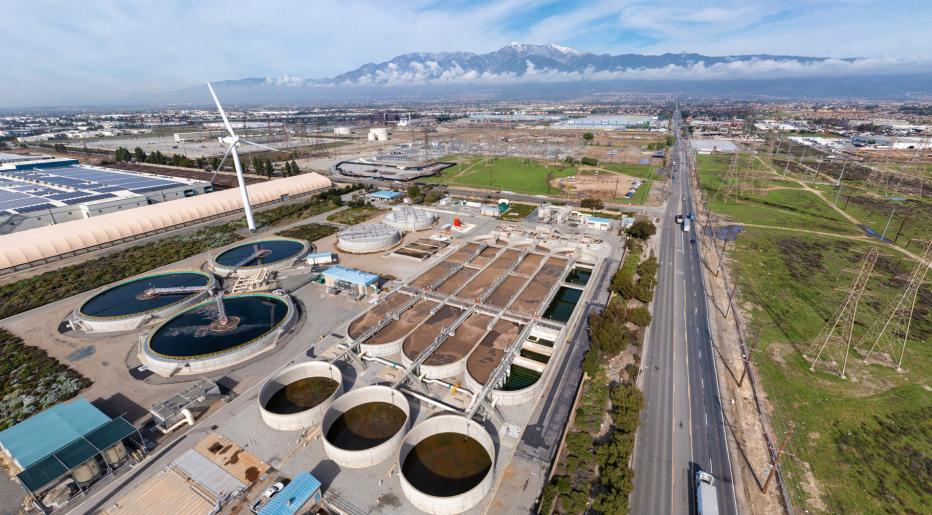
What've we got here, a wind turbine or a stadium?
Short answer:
wind turbine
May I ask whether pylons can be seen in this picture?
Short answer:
Yes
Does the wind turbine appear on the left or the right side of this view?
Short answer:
left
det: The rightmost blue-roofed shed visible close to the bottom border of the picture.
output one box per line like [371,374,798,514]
[260,472,322,515]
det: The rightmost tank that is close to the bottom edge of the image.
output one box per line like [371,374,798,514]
[399,414,496,513]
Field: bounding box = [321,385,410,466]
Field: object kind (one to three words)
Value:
storage tank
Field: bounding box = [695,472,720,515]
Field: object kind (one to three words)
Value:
truck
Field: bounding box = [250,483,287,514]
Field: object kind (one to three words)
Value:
truck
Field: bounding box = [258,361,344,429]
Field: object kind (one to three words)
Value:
storage tank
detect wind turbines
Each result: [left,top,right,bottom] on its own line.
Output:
[211,85,279,232]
